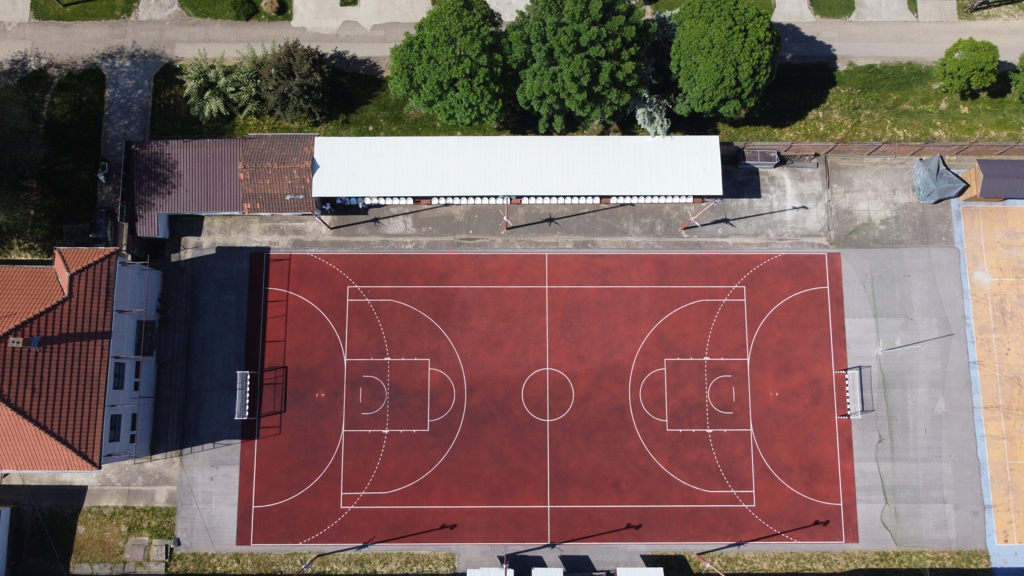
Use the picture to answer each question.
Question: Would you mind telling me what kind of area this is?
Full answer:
The area seen from above is a sports ground.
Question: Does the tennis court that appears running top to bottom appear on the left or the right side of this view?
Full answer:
You can find the tennis court that appears running top to bottom on the right side of the picture.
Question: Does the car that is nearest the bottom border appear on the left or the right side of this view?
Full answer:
It is on the left.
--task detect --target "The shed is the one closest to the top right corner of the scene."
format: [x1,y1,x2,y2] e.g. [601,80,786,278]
[959,159,1024,200]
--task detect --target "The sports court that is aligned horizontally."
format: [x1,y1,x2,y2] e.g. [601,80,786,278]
[236,251,860,546]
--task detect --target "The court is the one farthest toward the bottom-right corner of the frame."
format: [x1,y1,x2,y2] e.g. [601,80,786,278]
[952,171,1024,576]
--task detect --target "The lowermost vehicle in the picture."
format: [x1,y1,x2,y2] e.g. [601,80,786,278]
[90,216,120,247]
